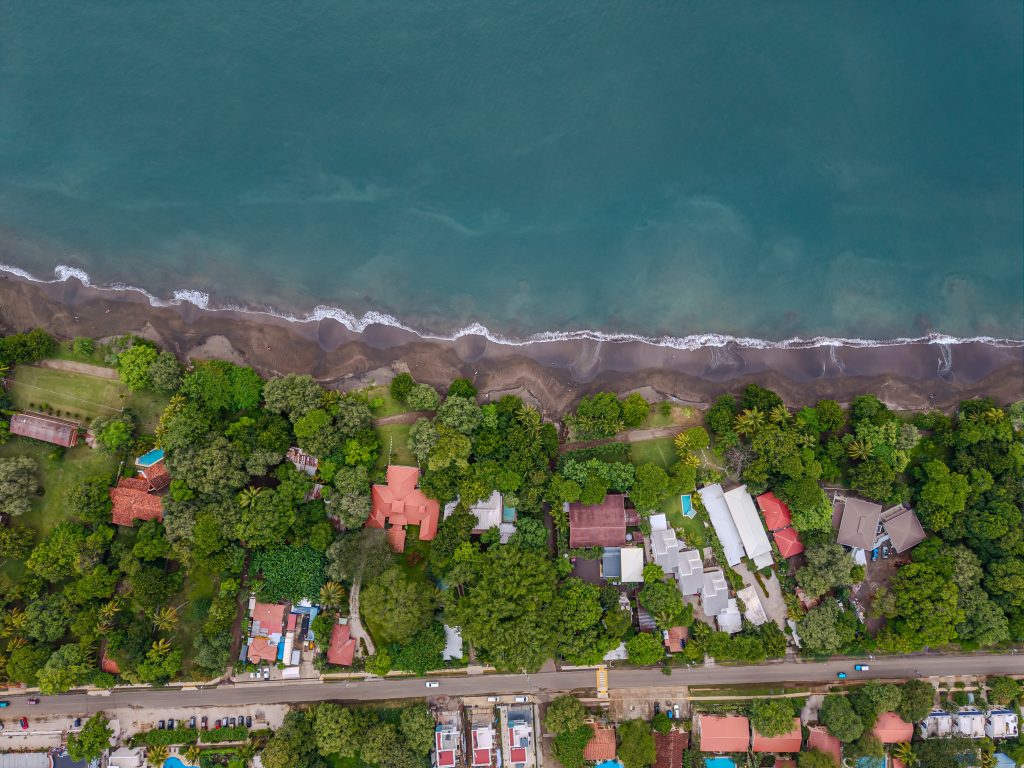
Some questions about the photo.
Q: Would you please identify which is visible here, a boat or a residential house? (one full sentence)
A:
Of the two, only a residential house appears.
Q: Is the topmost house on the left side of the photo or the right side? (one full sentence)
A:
It is on the left.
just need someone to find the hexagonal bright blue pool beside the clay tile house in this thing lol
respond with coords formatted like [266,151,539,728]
[136,448,164,467]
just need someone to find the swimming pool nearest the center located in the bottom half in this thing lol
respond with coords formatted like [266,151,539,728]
[503,506,516,522]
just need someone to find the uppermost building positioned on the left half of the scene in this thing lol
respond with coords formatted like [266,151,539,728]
[10,410,79,447]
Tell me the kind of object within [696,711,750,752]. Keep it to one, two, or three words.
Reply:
house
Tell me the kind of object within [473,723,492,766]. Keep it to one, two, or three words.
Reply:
house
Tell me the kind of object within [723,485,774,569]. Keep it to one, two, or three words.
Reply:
building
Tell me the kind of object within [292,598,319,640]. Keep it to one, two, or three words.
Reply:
building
